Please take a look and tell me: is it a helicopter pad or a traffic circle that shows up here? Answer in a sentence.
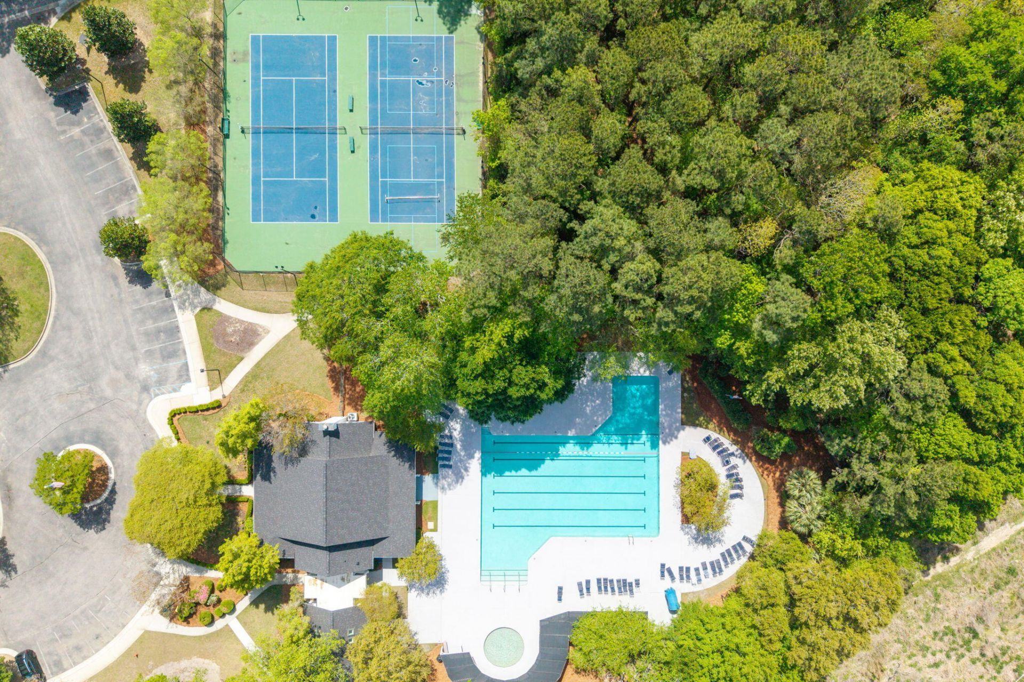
Visible in the photo is a traffic circle.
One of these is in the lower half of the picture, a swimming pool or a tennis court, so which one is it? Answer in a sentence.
The one visible in the lower half of the picture is a swimming pool.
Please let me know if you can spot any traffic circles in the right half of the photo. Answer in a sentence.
No, I can find no traffic circle in the right half of the photo.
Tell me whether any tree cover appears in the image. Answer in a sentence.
Yes, tree cover can be seen from above here.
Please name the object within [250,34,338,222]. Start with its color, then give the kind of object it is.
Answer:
blue tennis court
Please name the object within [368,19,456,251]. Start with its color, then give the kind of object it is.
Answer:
blue tennis court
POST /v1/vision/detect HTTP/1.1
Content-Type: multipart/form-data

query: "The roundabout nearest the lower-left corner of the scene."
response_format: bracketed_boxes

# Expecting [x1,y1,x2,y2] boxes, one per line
[55,444,115,506]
